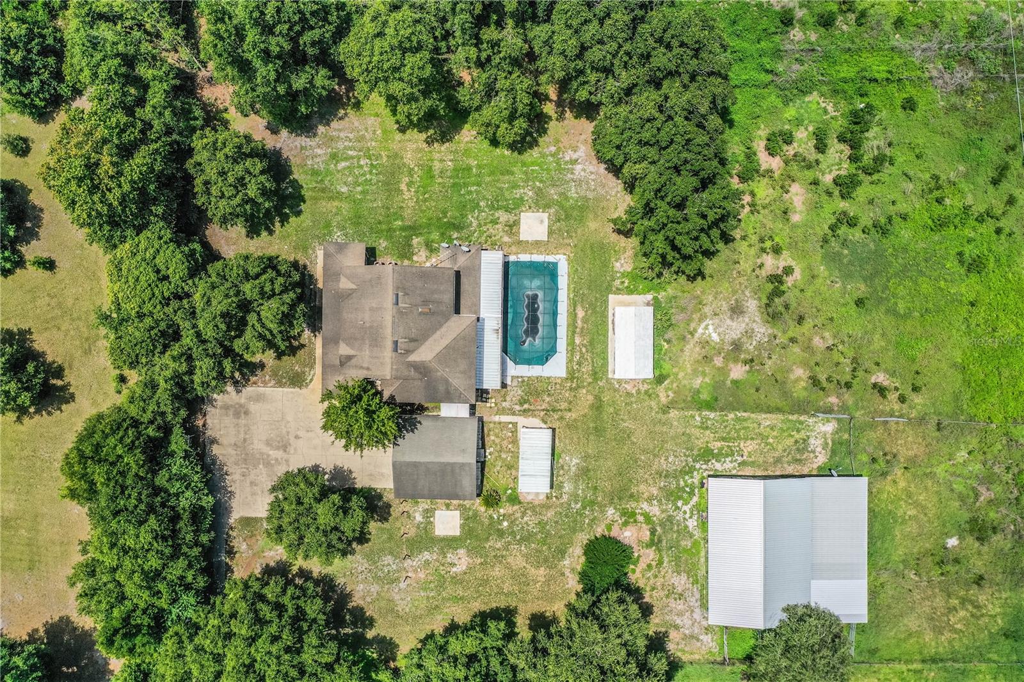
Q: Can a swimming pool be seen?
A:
Yes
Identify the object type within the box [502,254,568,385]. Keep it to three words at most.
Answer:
swimming pool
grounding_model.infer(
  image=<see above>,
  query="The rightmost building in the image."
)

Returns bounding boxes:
[708,474,868,629]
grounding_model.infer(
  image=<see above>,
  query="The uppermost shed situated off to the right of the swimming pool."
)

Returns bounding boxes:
[613,307,654,379]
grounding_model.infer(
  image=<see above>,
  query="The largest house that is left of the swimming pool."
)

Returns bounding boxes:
[322,242,503,417]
